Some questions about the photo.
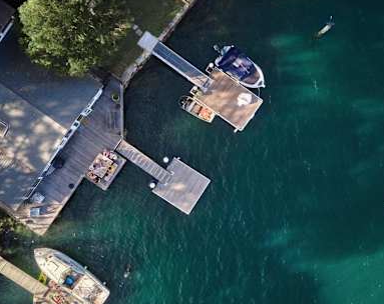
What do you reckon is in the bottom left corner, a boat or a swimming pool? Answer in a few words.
boat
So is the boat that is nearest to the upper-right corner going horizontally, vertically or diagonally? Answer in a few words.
diagonally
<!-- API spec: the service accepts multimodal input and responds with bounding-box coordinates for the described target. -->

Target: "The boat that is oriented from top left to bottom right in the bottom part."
[31,249,111,304]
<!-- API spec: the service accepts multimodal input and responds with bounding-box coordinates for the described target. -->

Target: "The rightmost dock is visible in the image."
[193,68,263,131]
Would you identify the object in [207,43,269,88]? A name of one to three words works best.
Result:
boat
